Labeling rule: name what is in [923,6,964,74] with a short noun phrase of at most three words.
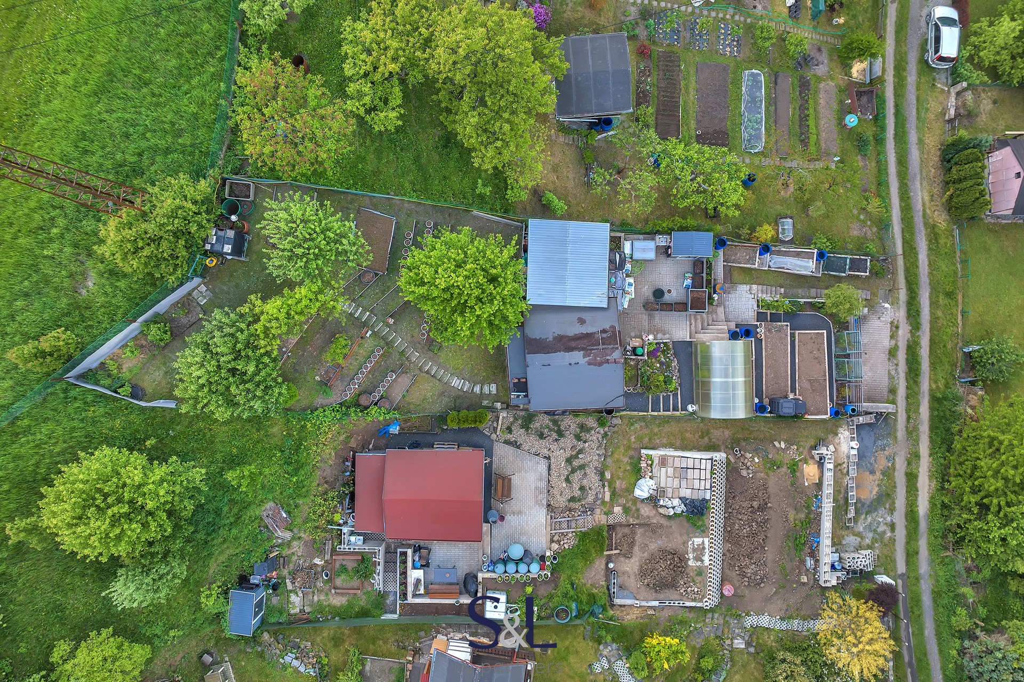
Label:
car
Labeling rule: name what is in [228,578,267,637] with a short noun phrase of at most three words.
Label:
shed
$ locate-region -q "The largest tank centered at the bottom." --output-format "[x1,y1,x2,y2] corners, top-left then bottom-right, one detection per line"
[486,585,507,619]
